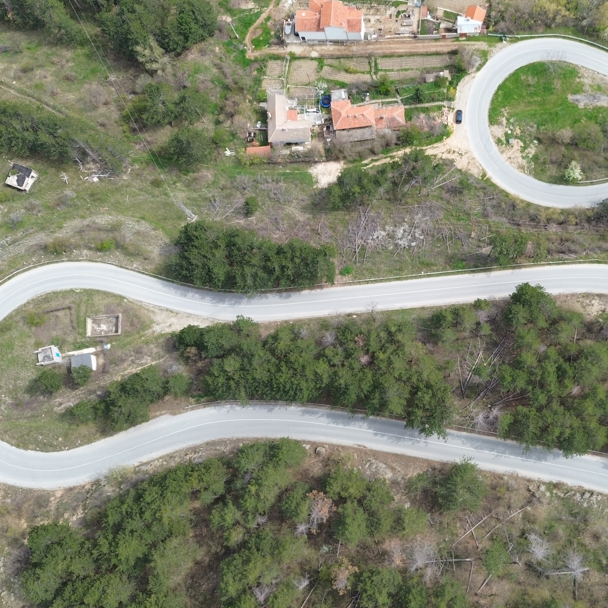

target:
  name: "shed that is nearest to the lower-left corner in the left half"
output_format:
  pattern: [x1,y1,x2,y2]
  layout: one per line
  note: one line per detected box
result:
[71,353,98,373]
